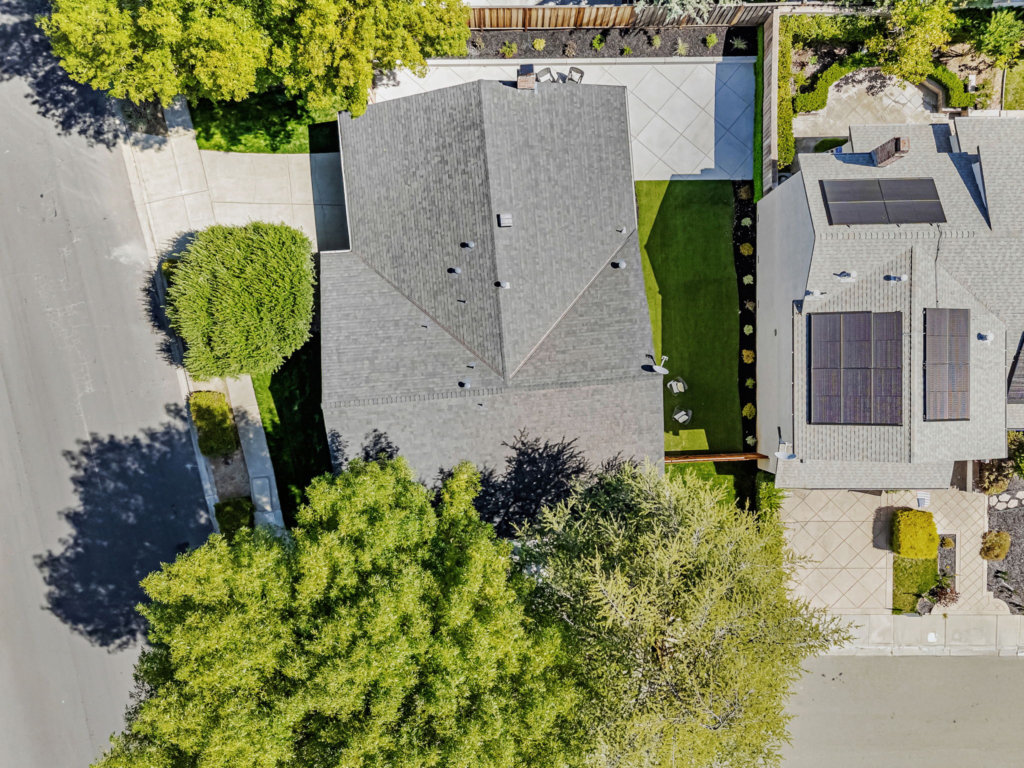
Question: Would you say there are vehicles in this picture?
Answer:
No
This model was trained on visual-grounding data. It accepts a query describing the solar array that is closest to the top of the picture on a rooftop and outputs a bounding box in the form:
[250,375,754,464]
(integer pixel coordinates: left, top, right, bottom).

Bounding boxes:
[818,181,949,227]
